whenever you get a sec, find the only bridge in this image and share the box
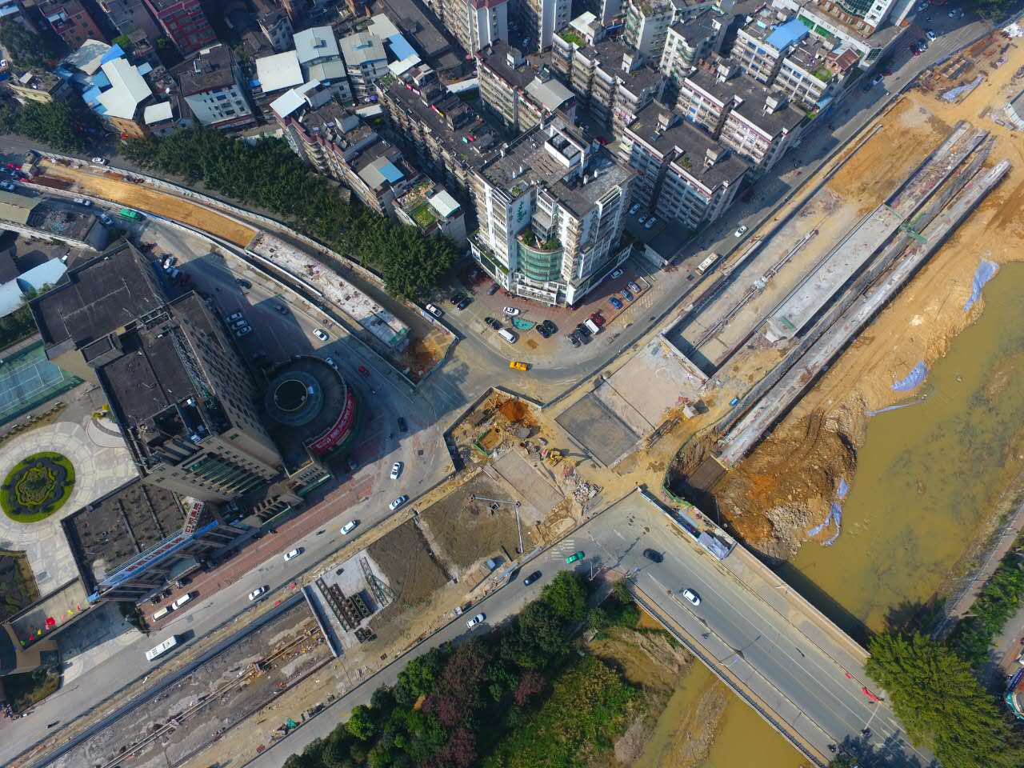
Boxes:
[631,534,1024,768]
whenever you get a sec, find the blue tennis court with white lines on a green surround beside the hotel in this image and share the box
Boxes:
[0,339,82,422]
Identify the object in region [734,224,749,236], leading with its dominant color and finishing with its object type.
white vehicle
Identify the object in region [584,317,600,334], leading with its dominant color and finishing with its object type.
white vehicle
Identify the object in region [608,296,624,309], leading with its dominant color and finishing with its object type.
blue vehicle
